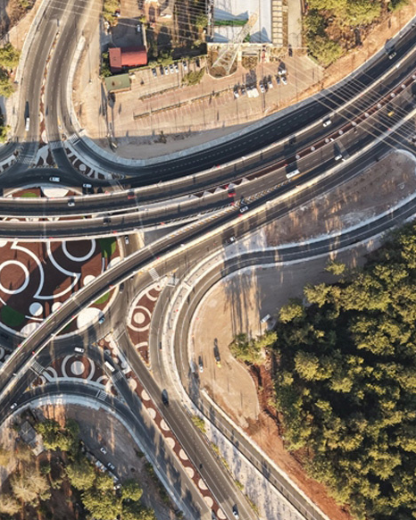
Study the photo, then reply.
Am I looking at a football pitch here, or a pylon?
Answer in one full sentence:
Visible in the photo is a pylon.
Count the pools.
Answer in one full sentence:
The photo contains no pools.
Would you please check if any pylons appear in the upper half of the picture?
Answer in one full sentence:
Yes, you'll find a pylon in the upper half of the picture.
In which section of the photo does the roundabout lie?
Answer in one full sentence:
The roundabout appears toward the left of the photo.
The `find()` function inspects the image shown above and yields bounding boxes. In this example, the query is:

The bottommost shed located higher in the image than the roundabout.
[104,73,130,93]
